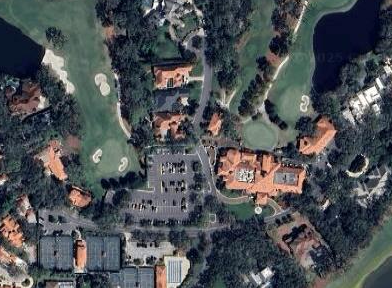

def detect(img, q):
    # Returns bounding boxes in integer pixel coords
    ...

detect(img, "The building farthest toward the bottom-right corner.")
[310,243,333,267]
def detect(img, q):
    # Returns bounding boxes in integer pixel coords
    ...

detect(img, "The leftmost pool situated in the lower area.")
[166,256,190,288]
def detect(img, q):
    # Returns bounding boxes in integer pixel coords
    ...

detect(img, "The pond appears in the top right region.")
[312,0,387,97]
